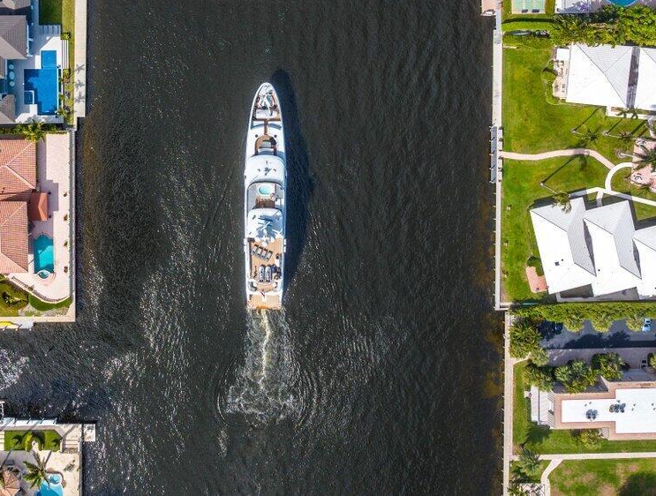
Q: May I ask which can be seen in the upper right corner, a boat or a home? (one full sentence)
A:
It is a home that can be seen in the upper right corner.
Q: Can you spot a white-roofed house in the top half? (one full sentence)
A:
Yes, a white-roofed house can be seen in the top half.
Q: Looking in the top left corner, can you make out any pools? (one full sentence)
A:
Yes, a pool is visible in the top left corner.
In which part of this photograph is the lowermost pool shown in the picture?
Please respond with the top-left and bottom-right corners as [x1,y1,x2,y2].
[35,473,64,496]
